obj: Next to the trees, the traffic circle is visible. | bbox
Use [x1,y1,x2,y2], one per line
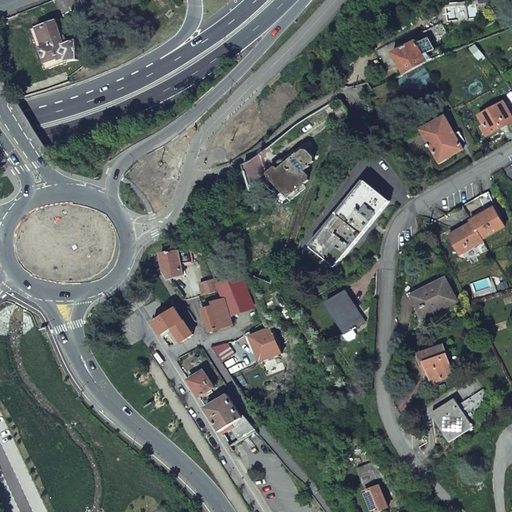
[0,171,136,302]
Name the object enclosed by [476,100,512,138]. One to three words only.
house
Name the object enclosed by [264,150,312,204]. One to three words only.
house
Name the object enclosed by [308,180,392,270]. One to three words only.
building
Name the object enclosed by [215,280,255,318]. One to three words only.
barn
